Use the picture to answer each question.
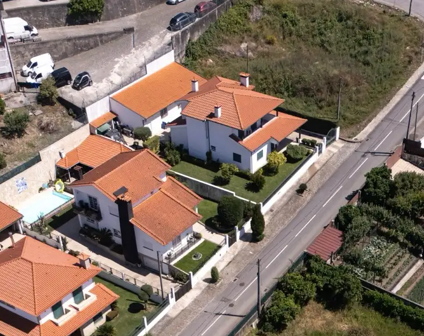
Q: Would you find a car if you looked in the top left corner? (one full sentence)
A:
Yes, you'll find a car in the top left corner.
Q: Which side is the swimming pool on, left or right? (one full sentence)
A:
It is on the left.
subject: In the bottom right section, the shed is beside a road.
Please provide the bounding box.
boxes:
[307,225,344,267]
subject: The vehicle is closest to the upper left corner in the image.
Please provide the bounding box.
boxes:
[0,13,43,39]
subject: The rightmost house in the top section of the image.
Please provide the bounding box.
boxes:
[165,68,309,174]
